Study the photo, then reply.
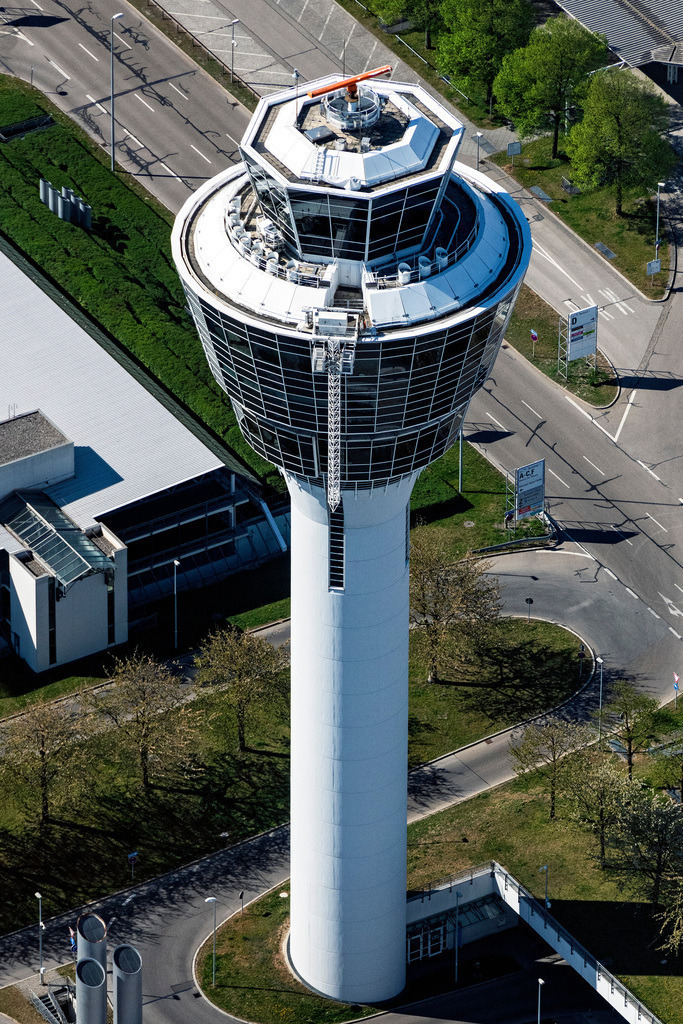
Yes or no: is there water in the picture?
No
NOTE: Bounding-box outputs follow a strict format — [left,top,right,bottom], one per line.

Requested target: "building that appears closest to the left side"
[0,230,288,662]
